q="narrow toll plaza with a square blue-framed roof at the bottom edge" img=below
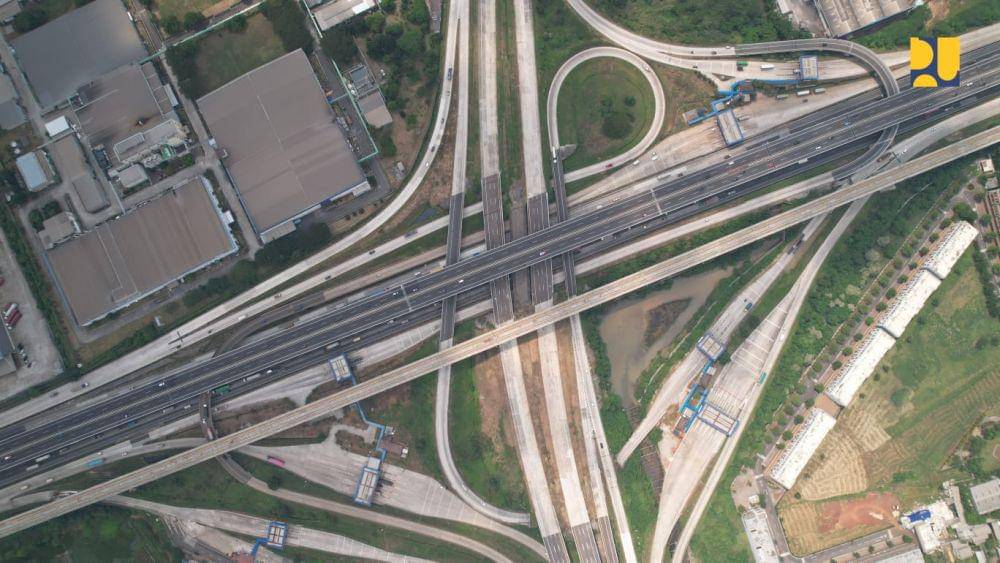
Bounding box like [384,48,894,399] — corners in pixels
[194,509,429,563]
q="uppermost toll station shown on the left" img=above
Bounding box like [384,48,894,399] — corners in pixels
[275,322,432,404]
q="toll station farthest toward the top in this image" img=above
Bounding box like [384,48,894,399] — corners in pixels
[652,54,848,91]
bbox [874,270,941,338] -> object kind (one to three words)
building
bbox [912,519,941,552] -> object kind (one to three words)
house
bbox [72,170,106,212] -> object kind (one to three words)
building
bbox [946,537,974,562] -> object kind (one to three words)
house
